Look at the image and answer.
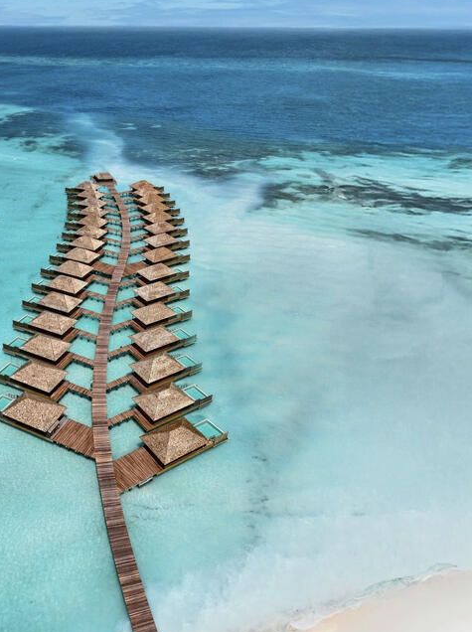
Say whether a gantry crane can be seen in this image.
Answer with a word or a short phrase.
No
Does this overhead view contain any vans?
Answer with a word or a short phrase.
No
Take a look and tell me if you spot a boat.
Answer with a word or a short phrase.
No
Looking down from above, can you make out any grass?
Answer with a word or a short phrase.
No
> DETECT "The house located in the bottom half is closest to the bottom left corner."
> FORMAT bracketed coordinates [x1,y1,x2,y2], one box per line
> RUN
[0,391,72,447]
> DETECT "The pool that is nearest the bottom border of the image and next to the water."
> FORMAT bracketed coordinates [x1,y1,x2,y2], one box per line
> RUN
[193,417,224,440]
